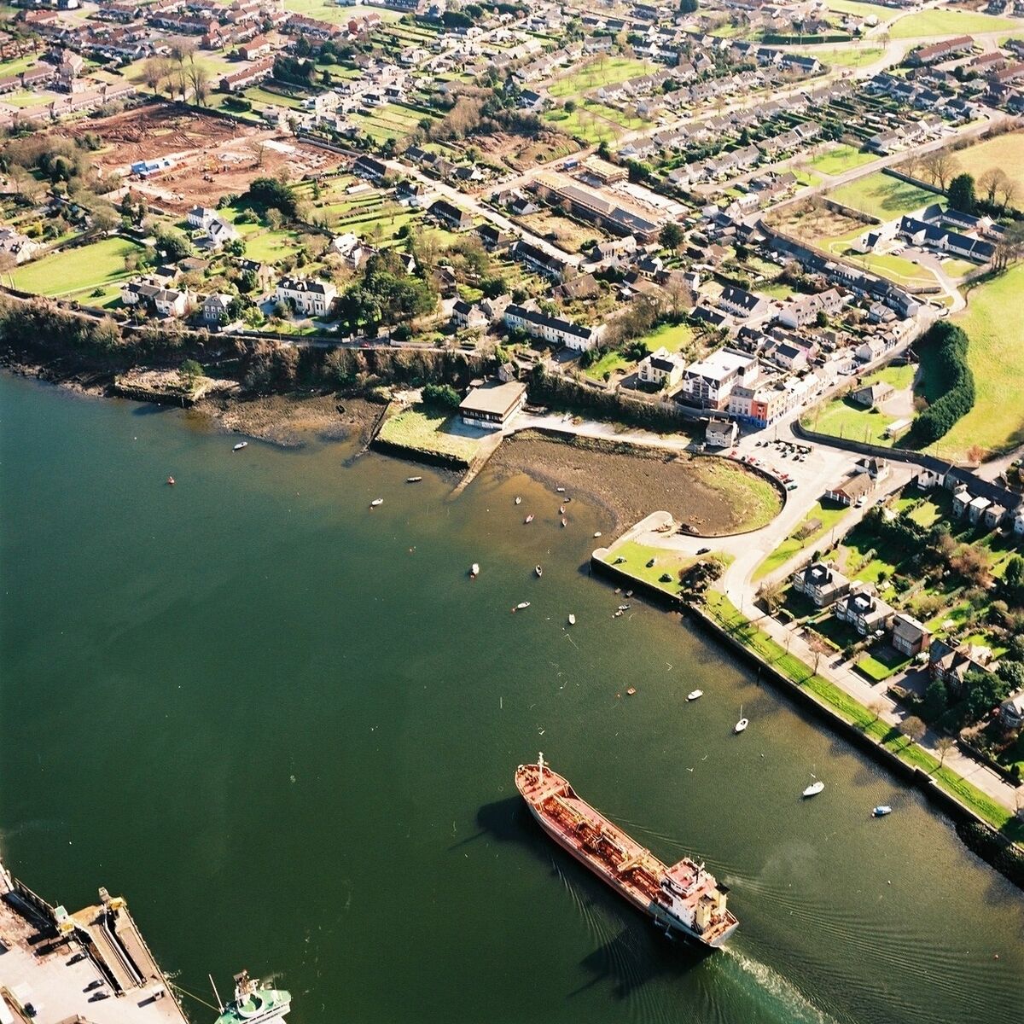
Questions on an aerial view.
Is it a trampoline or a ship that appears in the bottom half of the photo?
ship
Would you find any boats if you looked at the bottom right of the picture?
Yes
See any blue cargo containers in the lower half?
No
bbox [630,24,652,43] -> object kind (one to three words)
house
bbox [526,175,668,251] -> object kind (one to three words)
building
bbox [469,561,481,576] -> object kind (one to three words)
boat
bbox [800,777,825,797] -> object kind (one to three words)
boat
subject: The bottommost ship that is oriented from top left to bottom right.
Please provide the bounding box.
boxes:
[513,757,743,962]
